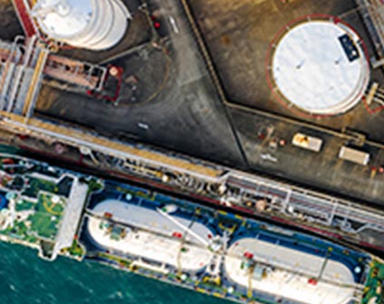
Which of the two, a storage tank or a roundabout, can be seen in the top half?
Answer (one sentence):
Looking in the top half, you will find a storage tank.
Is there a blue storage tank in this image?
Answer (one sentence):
No, there appears to be no blue storage tank in this shot.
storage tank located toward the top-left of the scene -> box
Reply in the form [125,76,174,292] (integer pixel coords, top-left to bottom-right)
[35,0,125,54]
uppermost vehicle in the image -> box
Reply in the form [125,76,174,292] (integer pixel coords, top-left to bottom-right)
[290,132,322,151]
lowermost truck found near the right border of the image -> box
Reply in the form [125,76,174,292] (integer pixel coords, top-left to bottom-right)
[336,145,370,166]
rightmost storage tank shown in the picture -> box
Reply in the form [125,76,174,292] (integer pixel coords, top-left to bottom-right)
[266,14,370,119]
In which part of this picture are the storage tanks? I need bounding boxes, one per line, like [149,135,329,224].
[35,0,125,54]
[266,14,370,119]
